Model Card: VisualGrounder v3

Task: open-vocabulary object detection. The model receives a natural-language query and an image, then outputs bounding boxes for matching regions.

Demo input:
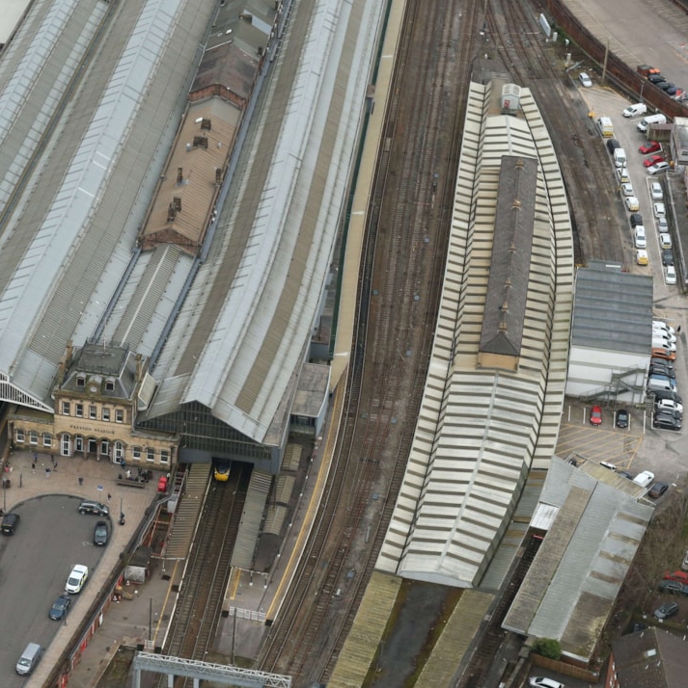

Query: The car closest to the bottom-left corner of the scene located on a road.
[18,645,39,673]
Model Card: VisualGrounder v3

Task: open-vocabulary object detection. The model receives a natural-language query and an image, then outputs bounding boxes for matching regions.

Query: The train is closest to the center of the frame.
[214,459,235,480]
